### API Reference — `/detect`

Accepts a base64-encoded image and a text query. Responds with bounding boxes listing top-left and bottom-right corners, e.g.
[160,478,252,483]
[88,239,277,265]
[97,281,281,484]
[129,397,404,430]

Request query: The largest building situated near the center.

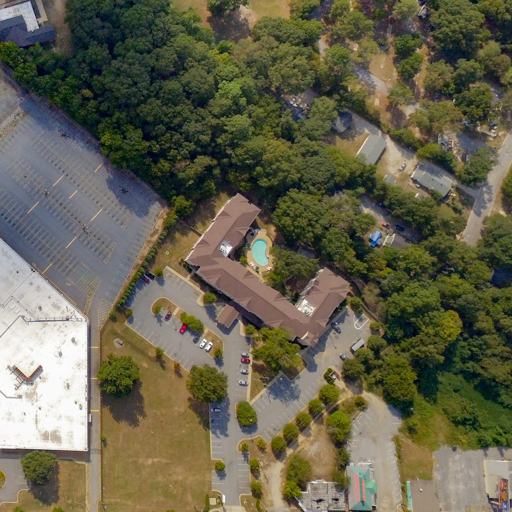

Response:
[181,198,344,349]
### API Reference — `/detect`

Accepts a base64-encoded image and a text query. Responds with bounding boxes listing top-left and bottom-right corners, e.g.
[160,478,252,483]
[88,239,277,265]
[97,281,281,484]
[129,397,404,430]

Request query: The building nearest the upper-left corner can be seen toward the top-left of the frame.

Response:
[0,1,57,47]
